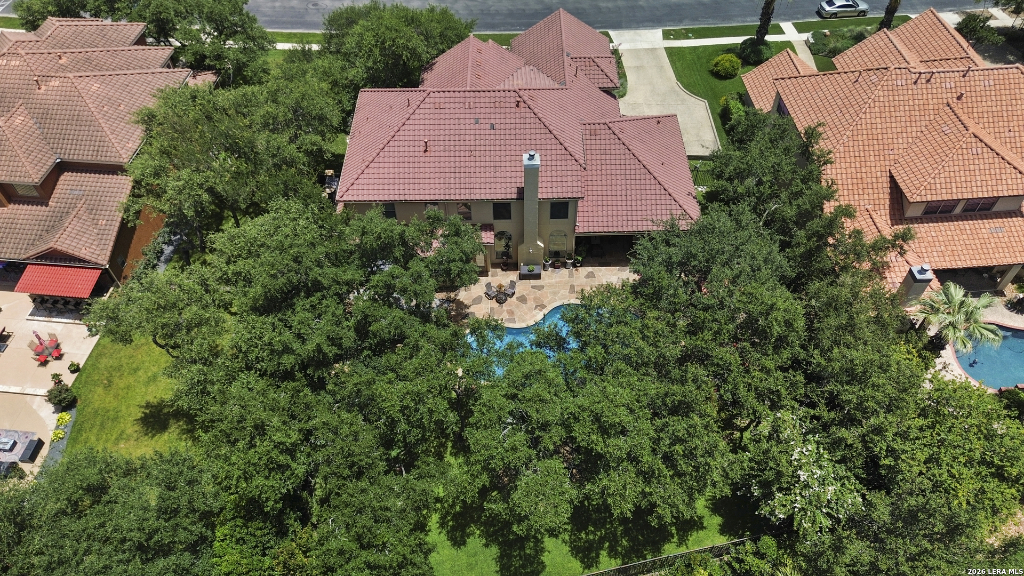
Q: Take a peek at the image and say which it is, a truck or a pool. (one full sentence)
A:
This aerial view contains a pool.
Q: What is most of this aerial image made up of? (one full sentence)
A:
What you mostly see from above here is trees.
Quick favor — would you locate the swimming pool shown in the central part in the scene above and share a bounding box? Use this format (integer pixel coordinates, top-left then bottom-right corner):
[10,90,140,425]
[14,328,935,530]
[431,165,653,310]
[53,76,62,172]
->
[460,298,655,386]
